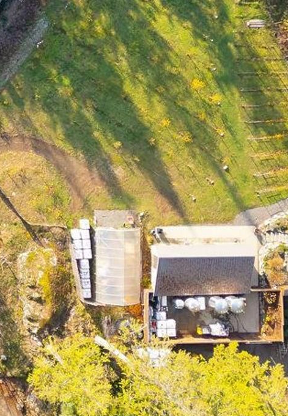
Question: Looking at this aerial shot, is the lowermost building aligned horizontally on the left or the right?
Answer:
right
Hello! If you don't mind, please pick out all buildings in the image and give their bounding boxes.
[98,229,142,307]
[145,242,258,297]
